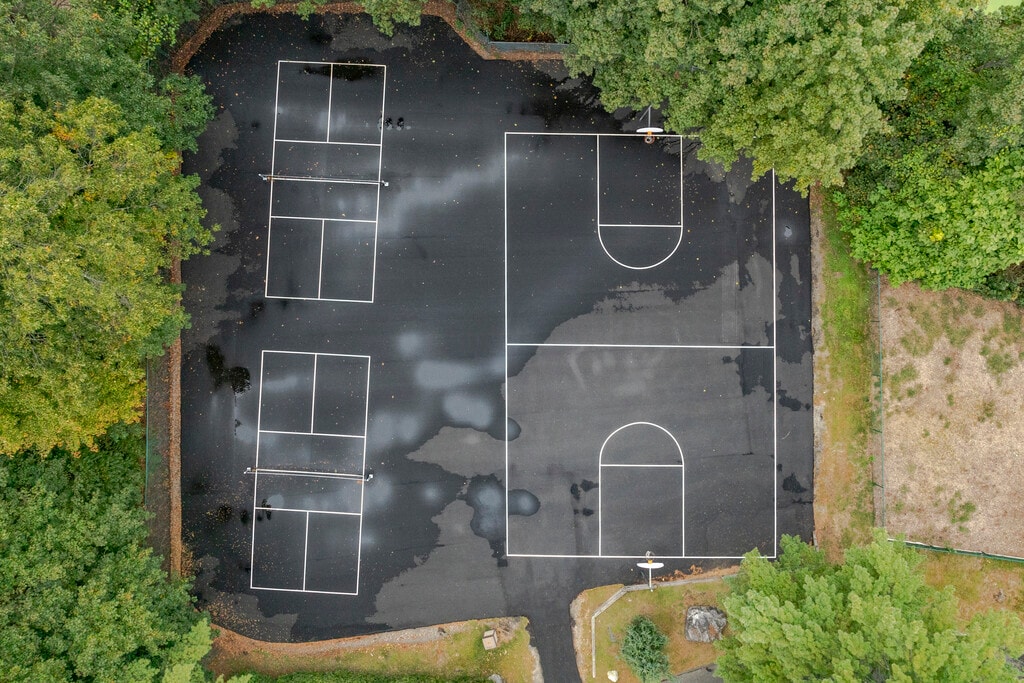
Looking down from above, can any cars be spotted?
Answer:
No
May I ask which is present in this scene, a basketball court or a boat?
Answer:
basketball court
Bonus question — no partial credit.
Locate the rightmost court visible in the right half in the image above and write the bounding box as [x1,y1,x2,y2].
[505,131,777,558]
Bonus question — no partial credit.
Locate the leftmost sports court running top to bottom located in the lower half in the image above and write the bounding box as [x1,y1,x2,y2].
[250,350,371,595]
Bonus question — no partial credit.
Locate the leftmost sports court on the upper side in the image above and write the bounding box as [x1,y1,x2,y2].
[265,61,386,303]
